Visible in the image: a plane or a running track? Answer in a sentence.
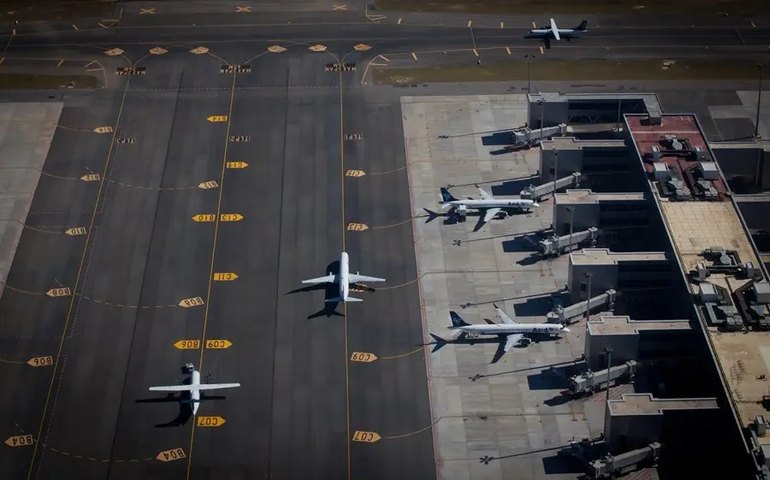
Of the two, only a plane appears.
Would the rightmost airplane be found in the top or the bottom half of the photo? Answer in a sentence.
The rightmost airplane sits in the top half of the picture.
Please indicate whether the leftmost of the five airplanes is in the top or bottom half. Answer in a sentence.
The leftmost of the five airplanes sits in the bottom half of the picture.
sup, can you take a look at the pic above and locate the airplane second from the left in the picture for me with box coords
[301,253,388,302]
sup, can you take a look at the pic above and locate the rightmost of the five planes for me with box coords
[528,17,590,38]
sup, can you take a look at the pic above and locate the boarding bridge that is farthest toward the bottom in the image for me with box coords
[585,438,659,479]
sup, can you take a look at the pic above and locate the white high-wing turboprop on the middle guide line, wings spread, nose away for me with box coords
[150,372,241,413]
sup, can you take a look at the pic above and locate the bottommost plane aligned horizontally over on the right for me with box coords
[448,304,569,349]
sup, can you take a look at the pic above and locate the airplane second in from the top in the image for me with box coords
[438,183,539,219]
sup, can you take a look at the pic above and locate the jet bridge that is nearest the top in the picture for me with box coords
[508,120,565,147]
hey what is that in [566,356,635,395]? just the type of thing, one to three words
jet bridge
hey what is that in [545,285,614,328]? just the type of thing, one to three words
jet bridge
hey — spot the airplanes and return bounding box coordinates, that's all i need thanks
[301,253,388,302]
[150,372,241,413]
[448,304,569,349]
[438,183,539,219]
[528,17,590,38]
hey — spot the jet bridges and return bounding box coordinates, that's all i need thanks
[508,120,565,147]
[534,223,596,258]
[545,285,614,328]
[585,438,659,479]
[566,356,635,395]
[519,169,580,204]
